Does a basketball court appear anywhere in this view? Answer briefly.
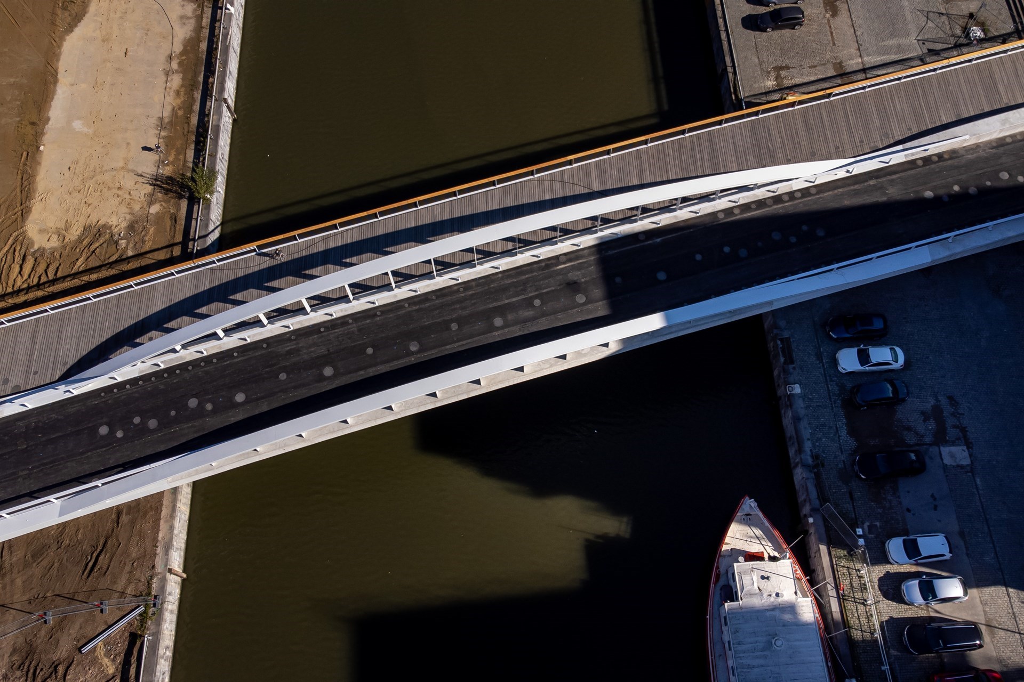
No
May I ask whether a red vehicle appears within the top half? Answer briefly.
No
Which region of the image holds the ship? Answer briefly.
bottom right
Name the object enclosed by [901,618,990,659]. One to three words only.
car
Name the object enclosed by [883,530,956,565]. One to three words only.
car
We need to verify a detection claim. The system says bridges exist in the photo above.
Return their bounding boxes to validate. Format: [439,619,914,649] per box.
[0,41,1024,545]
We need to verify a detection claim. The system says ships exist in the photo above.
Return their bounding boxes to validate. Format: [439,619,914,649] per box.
[704,496,836,682]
